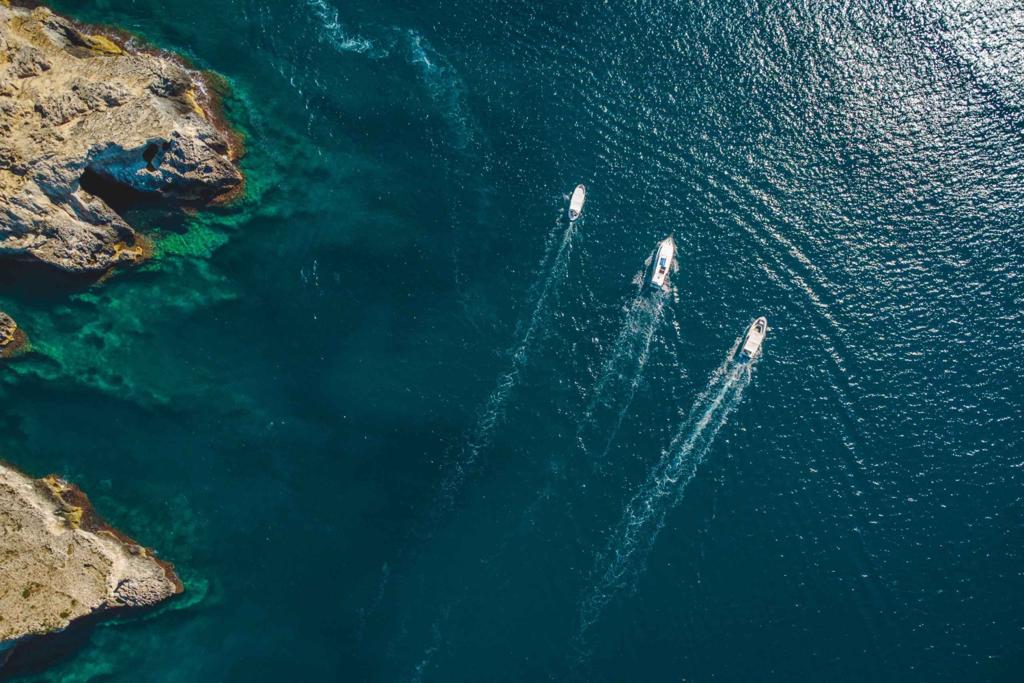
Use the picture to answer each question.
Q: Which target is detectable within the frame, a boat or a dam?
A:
boat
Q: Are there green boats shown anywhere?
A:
No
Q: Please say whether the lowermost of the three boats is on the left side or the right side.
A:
right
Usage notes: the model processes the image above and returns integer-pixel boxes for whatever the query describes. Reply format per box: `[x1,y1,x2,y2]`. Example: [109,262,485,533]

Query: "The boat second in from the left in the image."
[649,232,674,288]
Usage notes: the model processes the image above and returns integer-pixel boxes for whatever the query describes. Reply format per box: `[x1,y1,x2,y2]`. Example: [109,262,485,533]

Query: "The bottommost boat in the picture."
[740,316,767,358]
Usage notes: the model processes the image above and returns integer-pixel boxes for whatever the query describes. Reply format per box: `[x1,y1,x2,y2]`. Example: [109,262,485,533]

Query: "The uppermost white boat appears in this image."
[568,183,586,221]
